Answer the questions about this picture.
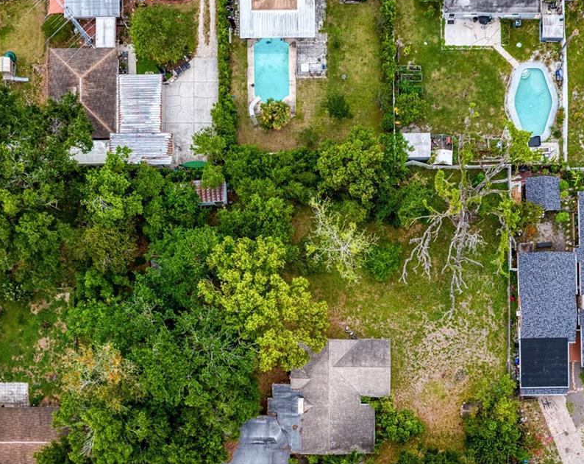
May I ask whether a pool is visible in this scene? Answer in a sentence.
Yes, this view includes a pool.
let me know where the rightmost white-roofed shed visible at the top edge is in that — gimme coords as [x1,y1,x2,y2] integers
[539,15,563,44]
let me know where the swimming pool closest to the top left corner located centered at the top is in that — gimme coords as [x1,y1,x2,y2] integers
[248,38,295,116]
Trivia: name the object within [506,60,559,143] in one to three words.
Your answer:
swimming pool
